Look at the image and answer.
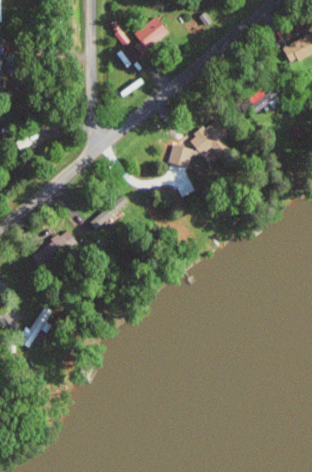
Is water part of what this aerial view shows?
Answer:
Yes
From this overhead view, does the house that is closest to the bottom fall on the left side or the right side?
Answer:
left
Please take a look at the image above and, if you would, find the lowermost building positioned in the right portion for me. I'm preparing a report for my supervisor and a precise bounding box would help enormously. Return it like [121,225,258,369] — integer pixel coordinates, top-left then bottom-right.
[169,124,229,170]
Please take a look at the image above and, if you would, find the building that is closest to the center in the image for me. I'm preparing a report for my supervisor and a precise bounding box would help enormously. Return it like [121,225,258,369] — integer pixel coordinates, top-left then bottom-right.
[91,196,128,228]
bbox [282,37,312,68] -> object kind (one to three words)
house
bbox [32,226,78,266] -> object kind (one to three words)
house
